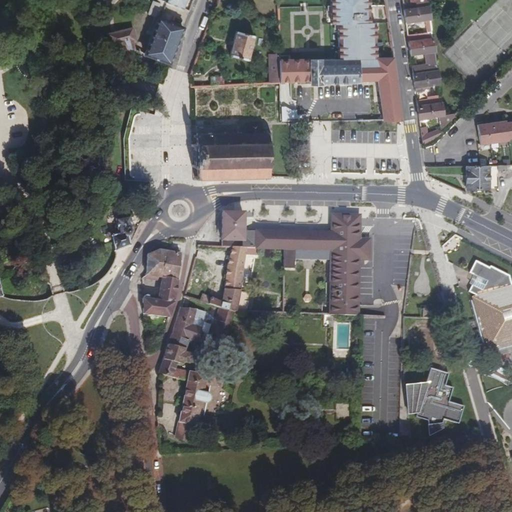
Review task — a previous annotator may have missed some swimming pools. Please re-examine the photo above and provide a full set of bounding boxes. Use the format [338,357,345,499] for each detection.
[333,322,352,358]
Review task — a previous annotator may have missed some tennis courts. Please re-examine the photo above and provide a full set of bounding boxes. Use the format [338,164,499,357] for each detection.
[444,0,512,81]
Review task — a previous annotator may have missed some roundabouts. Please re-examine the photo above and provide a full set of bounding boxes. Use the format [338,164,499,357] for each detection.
[157,184,214,237]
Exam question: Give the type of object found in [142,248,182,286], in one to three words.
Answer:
house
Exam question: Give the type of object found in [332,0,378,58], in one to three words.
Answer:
building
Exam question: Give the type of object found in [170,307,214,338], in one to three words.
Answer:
house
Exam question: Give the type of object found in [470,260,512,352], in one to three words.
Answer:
building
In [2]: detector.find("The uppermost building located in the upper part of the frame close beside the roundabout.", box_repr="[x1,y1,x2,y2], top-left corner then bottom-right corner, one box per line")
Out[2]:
[199,142,274,182]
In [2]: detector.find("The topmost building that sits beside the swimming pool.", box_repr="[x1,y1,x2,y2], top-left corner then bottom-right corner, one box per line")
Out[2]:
[255,212,372,314]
